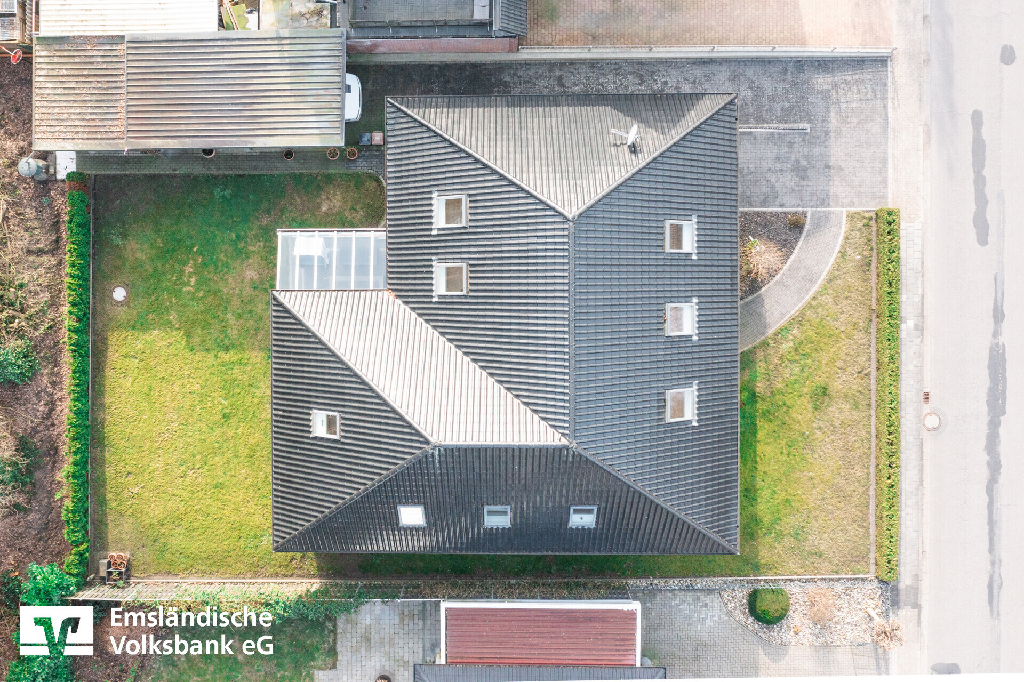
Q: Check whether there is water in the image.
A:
No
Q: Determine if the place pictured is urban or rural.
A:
urban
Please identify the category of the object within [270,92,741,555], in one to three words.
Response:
house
